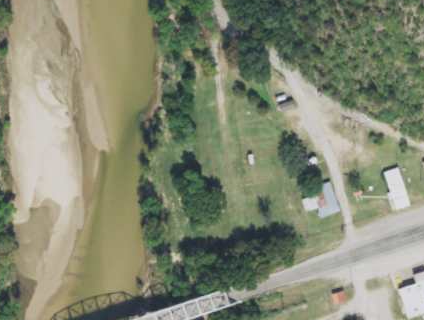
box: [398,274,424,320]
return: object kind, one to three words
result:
building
